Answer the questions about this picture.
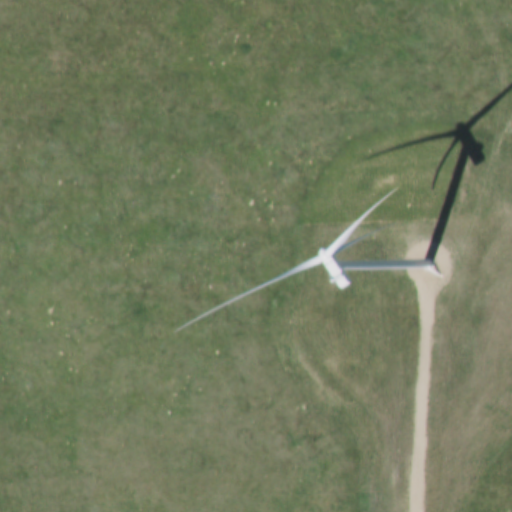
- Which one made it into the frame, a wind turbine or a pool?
wind turbine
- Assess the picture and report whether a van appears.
No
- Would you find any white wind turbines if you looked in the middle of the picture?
Yes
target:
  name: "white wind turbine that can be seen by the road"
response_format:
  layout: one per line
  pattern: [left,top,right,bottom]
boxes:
[176,188,444,330]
